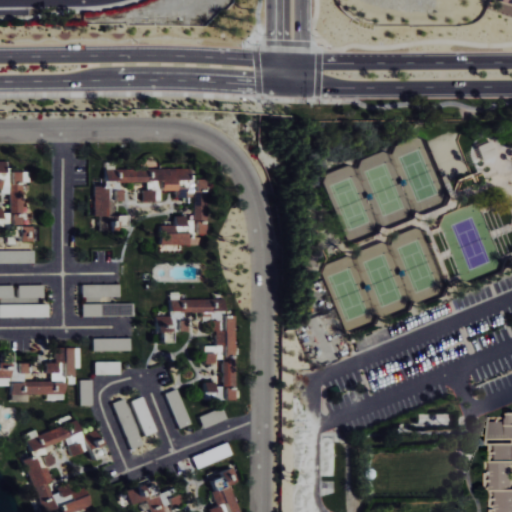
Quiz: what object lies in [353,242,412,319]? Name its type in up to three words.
tennis court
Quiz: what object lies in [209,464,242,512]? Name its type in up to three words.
house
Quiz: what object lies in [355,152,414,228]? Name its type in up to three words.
tennis court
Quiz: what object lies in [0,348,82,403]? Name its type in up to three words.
house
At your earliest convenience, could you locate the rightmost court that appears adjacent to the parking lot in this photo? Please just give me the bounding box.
[438,203,502,283]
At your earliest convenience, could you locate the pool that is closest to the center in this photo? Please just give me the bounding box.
[153,264,204,282]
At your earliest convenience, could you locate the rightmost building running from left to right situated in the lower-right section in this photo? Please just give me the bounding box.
[412,414,450,426]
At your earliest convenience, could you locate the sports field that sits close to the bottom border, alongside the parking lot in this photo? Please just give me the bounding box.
[370,450,454,497]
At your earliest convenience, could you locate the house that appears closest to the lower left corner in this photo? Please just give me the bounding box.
[22,416,108,512]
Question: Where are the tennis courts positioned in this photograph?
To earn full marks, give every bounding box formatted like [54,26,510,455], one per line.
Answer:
[389,136,449,215]
[353,242,412,319]
[355,152,414,228]
[388,229,446,304]
[438,203,502,283]
[325,166,378,242]
[318,256,376,333]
